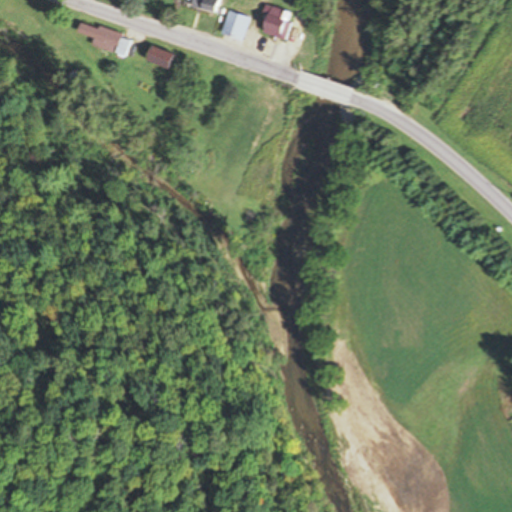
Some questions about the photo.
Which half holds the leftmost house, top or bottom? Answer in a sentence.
It is in the top half that the leftmost house appears.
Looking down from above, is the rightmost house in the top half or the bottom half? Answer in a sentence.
You can find the rightmost house in the top half.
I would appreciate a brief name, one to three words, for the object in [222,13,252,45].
shed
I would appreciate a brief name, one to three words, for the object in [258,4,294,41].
house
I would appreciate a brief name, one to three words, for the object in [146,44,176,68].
house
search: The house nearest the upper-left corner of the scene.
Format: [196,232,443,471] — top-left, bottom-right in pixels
[78,20,122,55]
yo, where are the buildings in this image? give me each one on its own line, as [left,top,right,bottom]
[258,4,294,41]
[116,36,136,60]
[146,44,176,68]
[191,0,221,16]
[78,20,122,55]
[222,13,252,45]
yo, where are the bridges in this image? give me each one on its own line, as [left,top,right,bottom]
[294,70,358,107]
